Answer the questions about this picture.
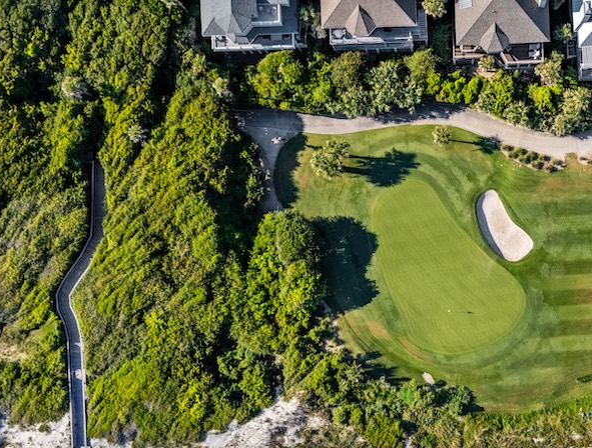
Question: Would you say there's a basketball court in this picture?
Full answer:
No, there's no basketball court here.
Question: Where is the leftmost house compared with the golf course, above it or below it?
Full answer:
Looking at the scene, the leftmost house is located above the golf course.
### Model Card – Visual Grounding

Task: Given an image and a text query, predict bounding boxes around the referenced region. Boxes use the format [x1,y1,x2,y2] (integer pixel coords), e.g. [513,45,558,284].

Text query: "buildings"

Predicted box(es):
[320,0,428,55]
[201,0,309,56]
[453,0,550,69]
[563,0,592,84]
